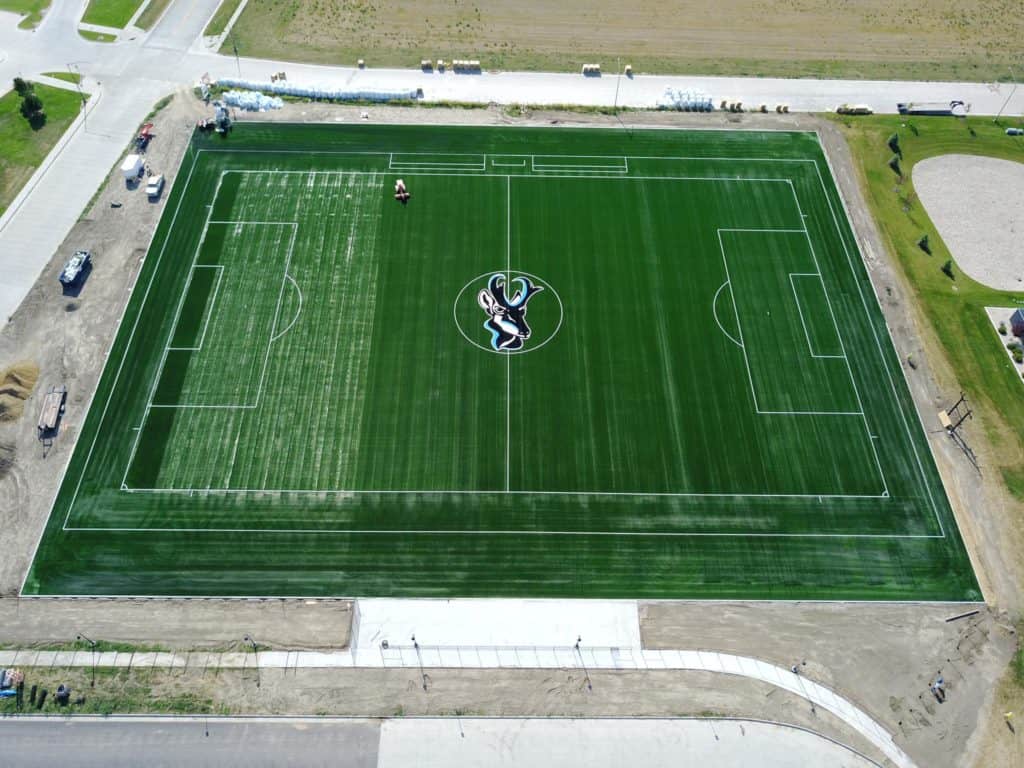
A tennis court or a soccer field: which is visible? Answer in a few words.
soccer field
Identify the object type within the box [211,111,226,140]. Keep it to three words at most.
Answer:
work vehicle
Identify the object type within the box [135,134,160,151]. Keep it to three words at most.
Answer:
work vehicle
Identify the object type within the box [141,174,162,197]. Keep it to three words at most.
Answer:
vehicle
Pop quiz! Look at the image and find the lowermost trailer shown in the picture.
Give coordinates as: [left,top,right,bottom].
[38,387,66,449]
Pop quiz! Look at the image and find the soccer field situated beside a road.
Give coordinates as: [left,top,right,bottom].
[20,121,986,603]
